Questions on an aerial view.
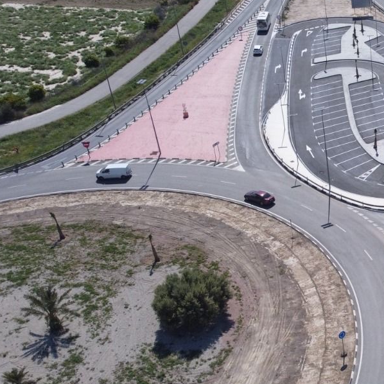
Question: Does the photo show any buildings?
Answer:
No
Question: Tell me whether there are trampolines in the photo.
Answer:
No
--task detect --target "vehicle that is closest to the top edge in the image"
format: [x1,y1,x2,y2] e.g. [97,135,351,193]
[255,7,271,29]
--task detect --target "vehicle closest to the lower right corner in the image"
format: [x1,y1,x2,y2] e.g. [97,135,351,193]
[241,188,277,206]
